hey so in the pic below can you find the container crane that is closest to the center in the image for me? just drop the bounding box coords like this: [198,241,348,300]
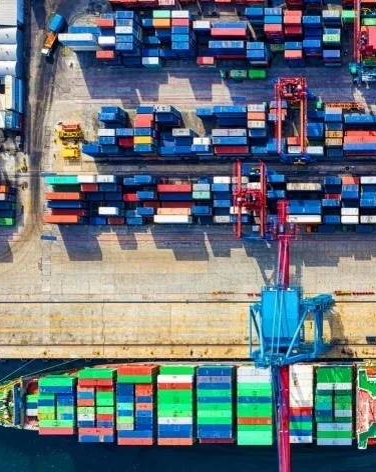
[234,160,279,241]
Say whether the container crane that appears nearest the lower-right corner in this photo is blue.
Yes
